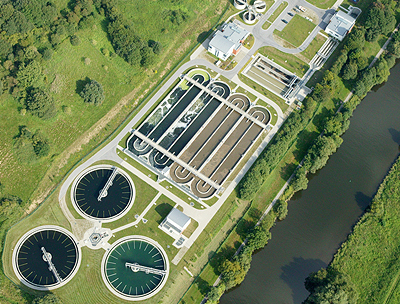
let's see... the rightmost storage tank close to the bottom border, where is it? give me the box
[101,235,171,302]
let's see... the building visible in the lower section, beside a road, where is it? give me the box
[166,207,192,231]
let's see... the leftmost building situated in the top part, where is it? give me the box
[207,22,250,62]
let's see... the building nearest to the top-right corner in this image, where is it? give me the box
[323,10,357,44]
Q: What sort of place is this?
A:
industrial area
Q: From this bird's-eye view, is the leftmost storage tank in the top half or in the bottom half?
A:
bottom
